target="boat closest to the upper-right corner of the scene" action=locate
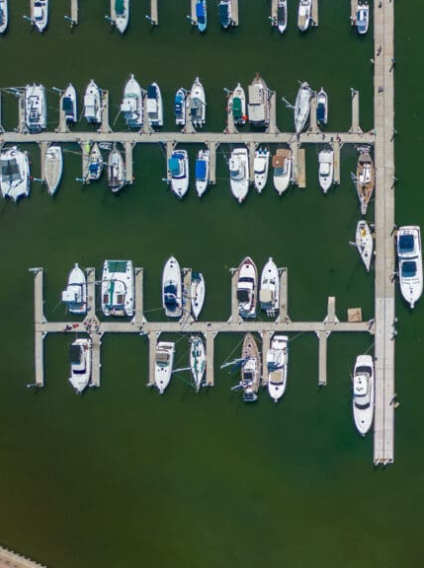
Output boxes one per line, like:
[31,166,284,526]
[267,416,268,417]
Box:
[357,1,369,34]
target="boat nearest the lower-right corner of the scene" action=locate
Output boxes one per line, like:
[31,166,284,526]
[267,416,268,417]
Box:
[353,348,376,436]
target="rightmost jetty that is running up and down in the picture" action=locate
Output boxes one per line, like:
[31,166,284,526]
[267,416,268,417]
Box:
[373,0,394,465]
